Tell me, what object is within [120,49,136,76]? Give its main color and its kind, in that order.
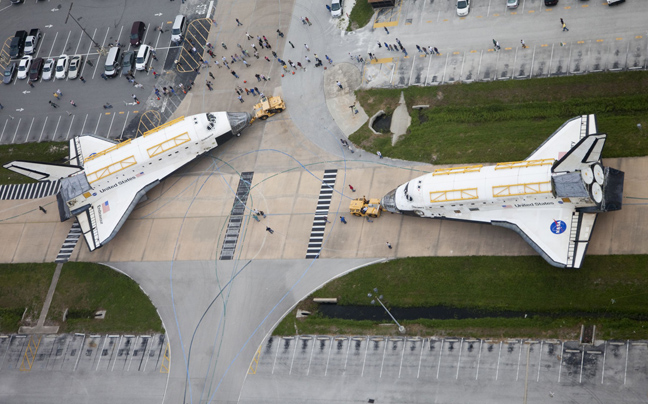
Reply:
gray car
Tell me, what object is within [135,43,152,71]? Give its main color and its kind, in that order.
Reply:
white car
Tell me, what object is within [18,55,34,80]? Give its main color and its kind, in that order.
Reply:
white car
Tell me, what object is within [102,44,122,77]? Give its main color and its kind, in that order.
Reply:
white vehicle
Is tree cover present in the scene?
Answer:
No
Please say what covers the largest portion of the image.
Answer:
paved ground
